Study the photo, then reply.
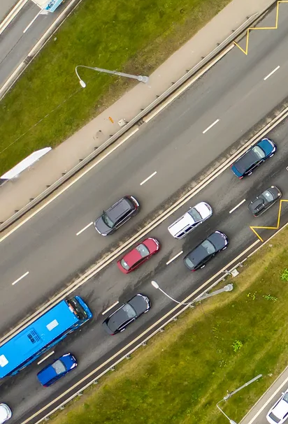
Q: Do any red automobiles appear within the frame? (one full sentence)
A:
Yes, a red automobile appears in the view.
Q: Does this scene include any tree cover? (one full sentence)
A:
No, no tree cover is visible.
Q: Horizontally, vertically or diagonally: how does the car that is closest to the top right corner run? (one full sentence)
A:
The car that is closest to the top right corner is laid out diagonally.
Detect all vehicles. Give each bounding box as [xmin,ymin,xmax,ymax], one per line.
[166,200,214,239]
[230,138,277,180]
[104,293,154,335]
[94,193,143,236]
[0,297,99,393]
[265,388,288,424]
[117,236,163,274]
[248,185,284,219]
[183,231,229,272]
[0,402,16,424]
[33,0,71,16]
